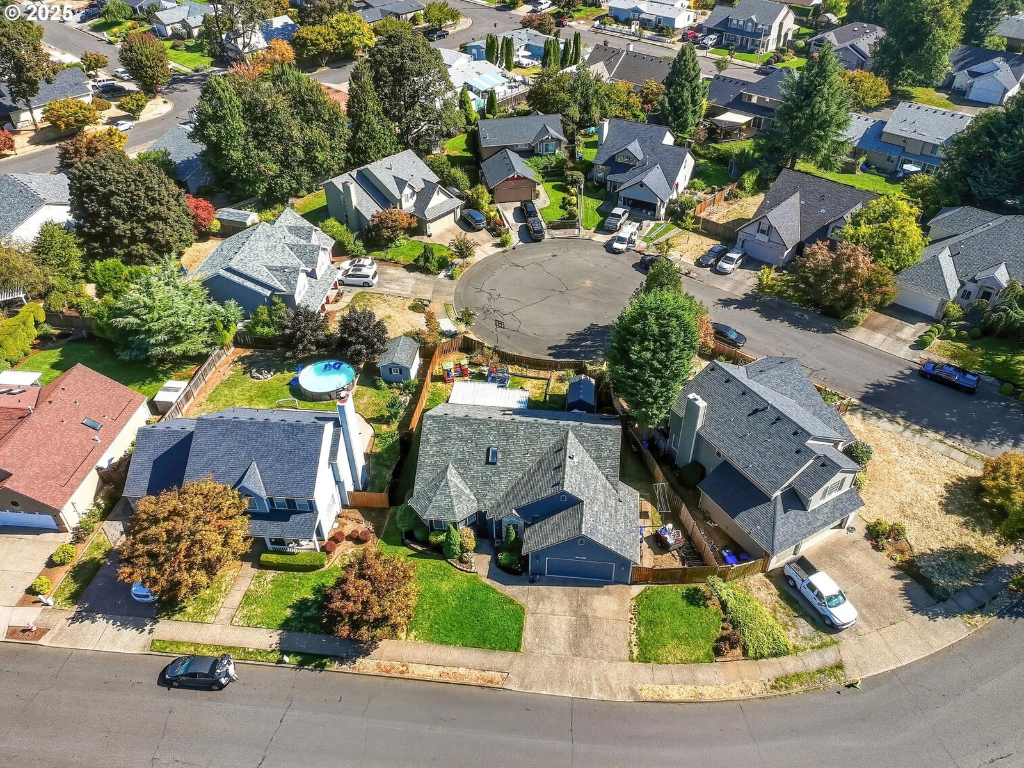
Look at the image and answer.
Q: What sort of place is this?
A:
residential area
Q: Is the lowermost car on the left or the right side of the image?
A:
left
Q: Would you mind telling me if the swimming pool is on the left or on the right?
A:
left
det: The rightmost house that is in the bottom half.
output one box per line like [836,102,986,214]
[661,352,868,573]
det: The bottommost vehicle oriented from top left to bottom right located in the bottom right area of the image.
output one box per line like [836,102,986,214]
[783,557,860,631]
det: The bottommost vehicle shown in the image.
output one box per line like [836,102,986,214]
[157,650,231,690]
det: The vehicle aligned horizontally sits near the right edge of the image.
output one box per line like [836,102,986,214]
[919,357,985,387]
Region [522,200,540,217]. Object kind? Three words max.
car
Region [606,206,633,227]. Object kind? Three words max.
truck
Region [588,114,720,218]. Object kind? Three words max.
house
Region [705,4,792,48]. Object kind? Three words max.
house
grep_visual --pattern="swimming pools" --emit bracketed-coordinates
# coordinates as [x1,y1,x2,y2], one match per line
[296,360,357,404]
